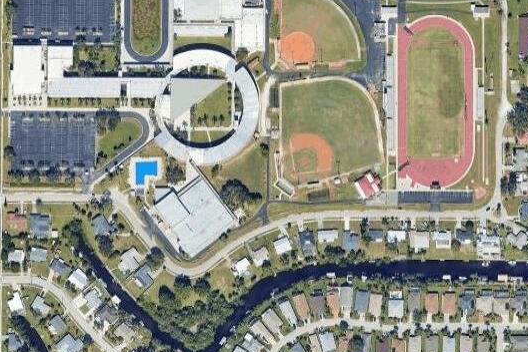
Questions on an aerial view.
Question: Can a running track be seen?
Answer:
Yes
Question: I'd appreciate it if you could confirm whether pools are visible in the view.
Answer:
Yes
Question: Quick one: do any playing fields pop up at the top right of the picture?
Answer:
Yes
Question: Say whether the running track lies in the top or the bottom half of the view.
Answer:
top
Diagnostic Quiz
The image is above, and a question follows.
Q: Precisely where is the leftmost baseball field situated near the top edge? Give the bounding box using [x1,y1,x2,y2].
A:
[280,0,360,70]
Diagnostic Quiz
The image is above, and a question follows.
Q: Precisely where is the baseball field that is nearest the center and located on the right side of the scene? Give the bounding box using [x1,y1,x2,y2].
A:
[280,77,383,187]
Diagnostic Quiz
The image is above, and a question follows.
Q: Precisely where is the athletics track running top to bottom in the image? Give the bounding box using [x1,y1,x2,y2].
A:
[395,14,475,189]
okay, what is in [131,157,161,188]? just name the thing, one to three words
swimming pool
